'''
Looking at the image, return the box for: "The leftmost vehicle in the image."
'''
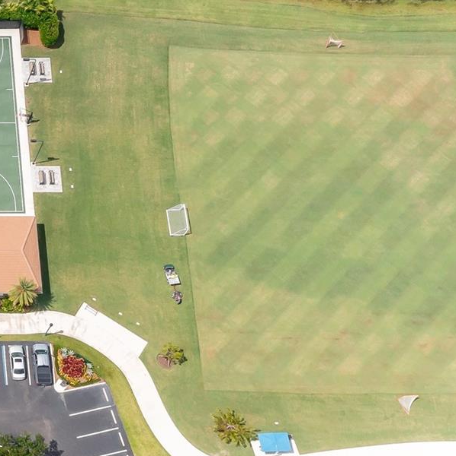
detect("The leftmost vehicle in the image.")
[10,348,25,382]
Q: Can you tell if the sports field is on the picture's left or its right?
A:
right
